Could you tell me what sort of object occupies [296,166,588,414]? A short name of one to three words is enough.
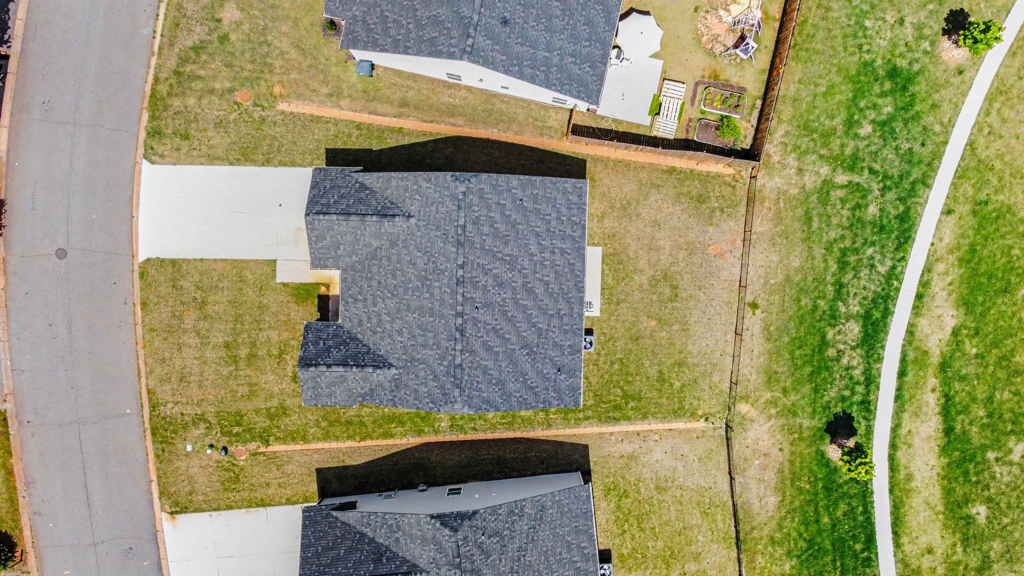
house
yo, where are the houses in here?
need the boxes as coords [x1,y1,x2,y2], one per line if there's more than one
[296,166,588,414]
[323,0,624,120]
[298,473,602,576]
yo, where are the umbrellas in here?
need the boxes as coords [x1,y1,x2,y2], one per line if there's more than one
[618,13,663,58]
